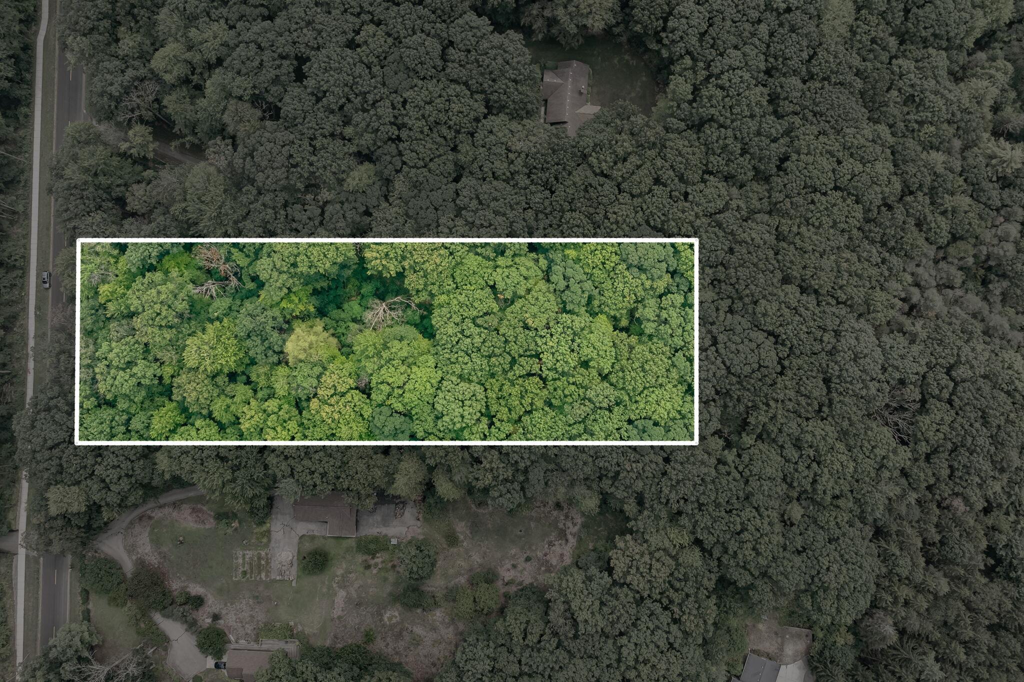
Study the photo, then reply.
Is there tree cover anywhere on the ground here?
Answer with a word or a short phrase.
Yes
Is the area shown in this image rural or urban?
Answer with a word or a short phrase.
rural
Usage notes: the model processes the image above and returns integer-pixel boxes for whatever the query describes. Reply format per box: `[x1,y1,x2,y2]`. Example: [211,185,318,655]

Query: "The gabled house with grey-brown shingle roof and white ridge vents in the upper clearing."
[541,60,601,145]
